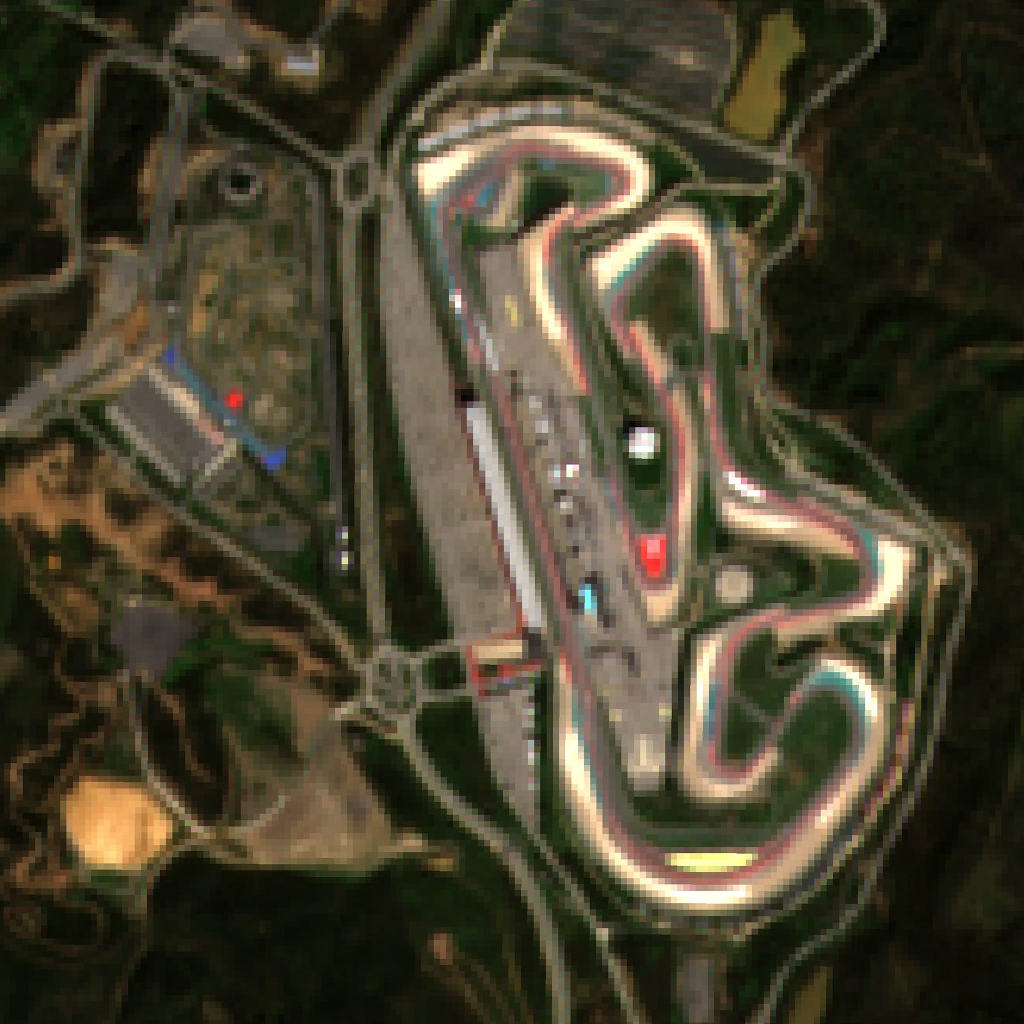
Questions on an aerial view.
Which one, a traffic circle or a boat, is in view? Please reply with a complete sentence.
Of the two, only a traffic circle appears.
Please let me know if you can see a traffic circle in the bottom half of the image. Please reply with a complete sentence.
Yes, there is a traffic circle in the bottom half of the image.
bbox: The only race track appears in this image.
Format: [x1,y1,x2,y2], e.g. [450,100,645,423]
[444,145,872,883]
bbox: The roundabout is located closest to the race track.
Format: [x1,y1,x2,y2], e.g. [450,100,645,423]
[335,149,377,208]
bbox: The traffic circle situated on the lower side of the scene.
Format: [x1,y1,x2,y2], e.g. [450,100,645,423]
[366,648,421,715]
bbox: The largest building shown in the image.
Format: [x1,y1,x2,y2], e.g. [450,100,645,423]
[472,643,536,686]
